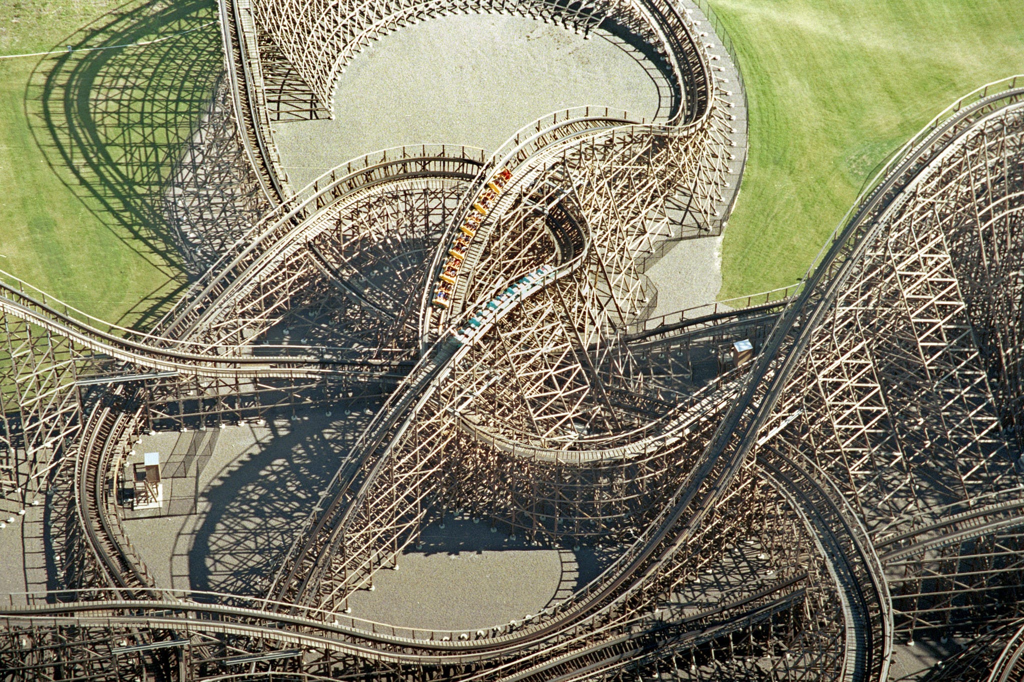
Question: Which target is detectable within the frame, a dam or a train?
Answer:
train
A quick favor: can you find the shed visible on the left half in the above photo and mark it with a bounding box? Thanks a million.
[130,451,166,507]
